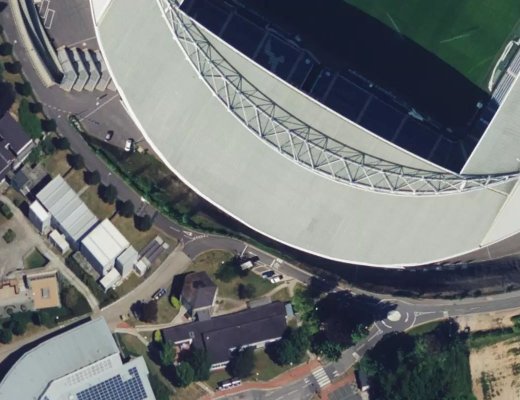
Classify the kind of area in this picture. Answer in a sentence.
This looks like a sports ground.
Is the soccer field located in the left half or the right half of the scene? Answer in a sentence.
The soccer field is on the right side of the image.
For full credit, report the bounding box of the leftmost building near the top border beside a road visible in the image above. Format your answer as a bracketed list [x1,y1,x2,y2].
[10,0,64,89]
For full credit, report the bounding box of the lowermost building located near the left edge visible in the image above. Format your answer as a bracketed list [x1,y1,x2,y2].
[0,316,155,400]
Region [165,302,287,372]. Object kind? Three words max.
building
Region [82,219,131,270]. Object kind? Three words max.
shed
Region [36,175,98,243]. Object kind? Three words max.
shed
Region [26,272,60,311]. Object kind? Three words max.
building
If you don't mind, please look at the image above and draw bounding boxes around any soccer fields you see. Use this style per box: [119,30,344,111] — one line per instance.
[266,0,520,121]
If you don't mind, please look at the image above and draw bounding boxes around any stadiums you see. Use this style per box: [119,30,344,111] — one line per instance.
[89,0,520,273]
